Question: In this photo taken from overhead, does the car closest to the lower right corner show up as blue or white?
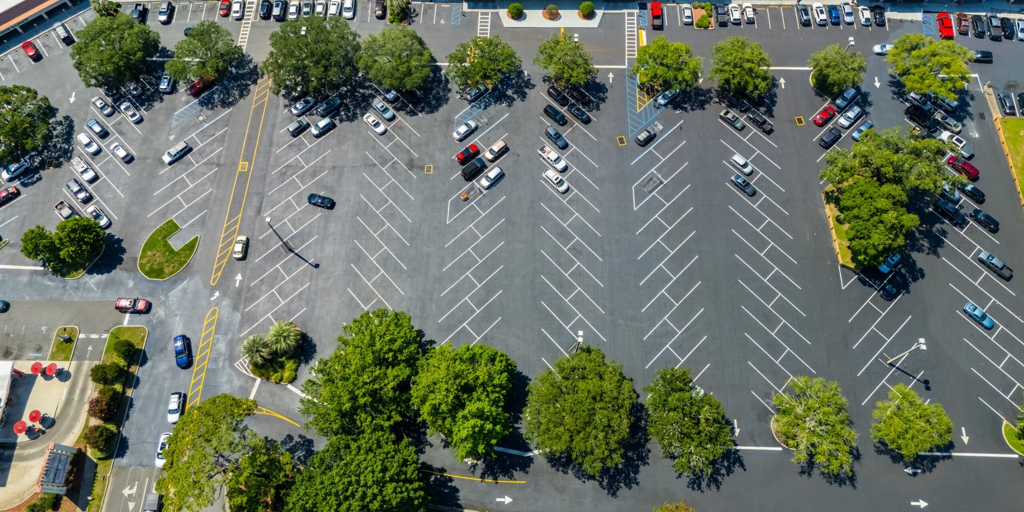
blue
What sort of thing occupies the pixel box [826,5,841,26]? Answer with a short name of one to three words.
car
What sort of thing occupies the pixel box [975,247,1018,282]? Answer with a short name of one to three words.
truck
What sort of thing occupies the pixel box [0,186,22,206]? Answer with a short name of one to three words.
car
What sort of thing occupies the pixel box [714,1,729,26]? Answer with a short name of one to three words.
vehicle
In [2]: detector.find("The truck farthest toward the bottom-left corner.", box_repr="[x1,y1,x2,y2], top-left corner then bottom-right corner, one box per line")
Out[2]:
[140,489,163,512]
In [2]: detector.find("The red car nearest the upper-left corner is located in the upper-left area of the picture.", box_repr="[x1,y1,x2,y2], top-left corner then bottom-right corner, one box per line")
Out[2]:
[21,41,42,63]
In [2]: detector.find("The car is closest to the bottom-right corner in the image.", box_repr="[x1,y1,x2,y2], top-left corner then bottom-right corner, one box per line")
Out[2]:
[960,299,996,331]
